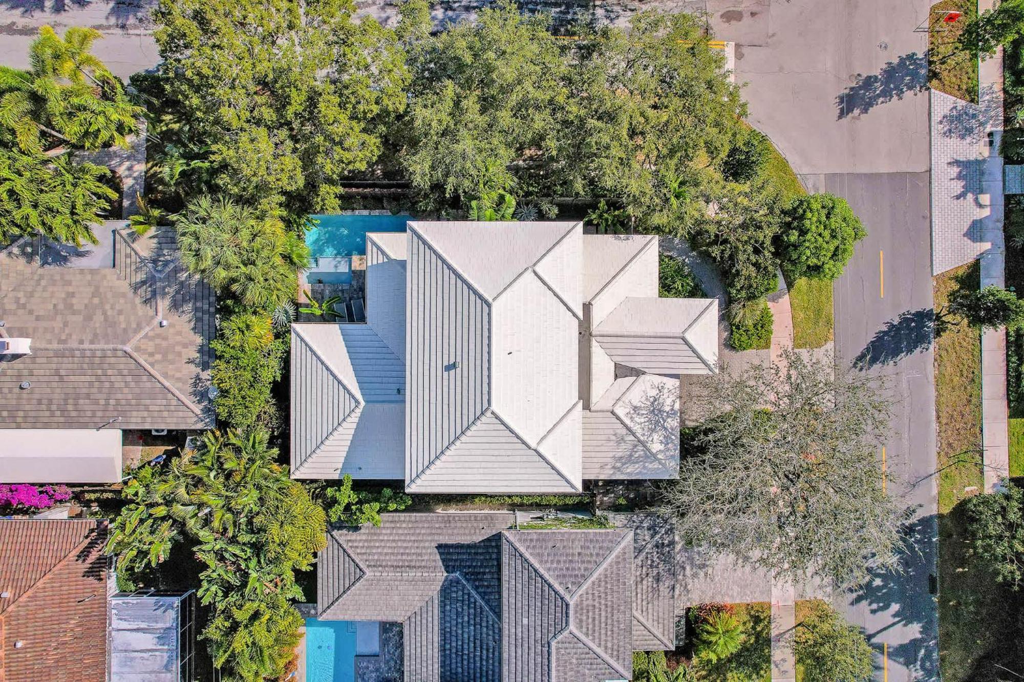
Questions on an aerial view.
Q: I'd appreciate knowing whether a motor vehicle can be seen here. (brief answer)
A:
No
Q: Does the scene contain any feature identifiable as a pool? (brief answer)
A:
Yes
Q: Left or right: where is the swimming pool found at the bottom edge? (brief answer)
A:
left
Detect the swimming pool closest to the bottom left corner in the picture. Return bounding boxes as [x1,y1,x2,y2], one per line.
[307,617,384,682]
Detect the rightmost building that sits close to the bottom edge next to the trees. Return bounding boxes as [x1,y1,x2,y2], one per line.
[314,511,677,682]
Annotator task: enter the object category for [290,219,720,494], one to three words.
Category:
house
